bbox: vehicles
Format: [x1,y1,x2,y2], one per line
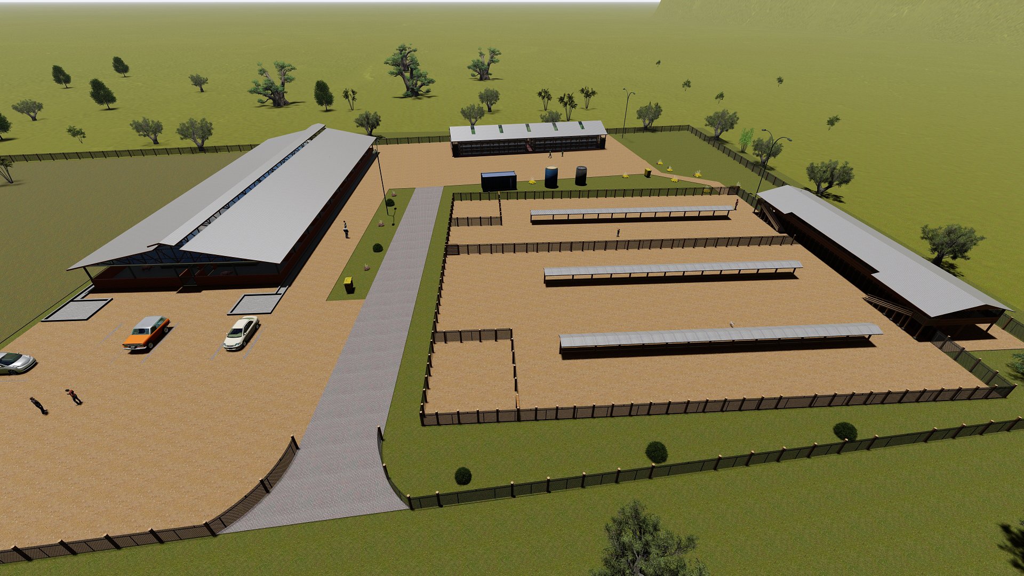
[0,350,36,372]
[222,315,259,348]
[120,315,170,351]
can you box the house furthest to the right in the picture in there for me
[753,185,1020,338]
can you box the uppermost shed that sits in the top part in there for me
[448,120,607,156]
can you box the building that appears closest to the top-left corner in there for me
[67,122,376,287]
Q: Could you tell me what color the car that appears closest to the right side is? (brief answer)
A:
white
